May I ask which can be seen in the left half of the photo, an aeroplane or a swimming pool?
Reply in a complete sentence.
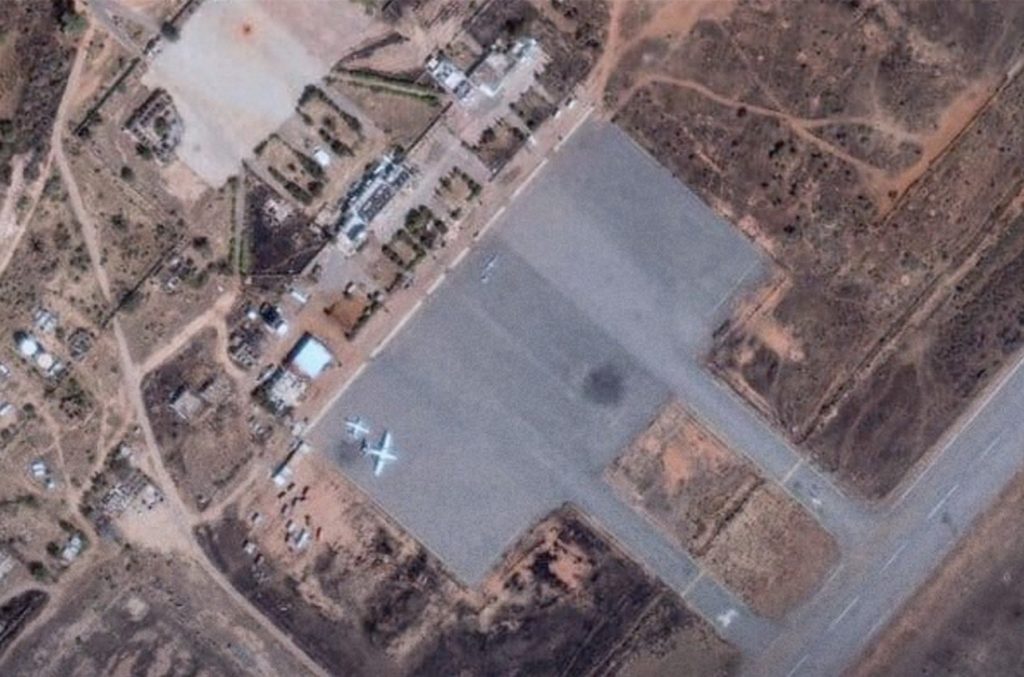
The feature located in the left half of the photo is an aeroplane.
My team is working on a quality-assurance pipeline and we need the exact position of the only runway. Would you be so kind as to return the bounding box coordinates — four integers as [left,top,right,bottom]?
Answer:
[749,358,1024,677]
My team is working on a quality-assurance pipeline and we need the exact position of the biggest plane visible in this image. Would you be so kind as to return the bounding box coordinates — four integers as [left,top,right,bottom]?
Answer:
[362,432,397,475]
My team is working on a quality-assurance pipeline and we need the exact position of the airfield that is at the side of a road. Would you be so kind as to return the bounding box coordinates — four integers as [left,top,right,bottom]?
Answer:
[303,119,1024,677]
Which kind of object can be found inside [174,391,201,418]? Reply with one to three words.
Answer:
house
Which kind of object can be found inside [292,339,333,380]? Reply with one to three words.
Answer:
hangar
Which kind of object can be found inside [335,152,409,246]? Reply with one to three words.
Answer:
building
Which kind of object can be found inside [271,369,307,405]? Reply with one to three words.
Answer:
building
